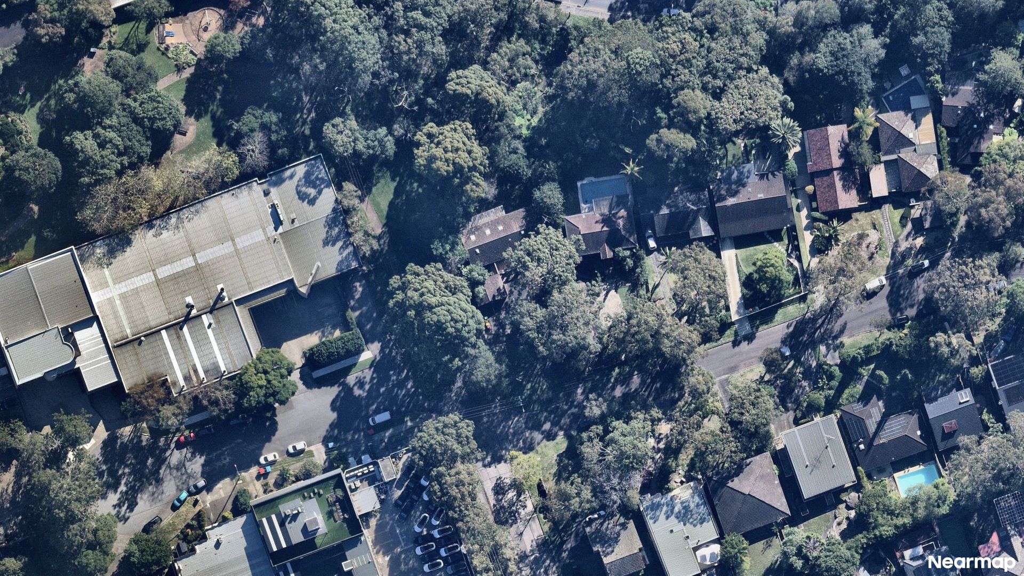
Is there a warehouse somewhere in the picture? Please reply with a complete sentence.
Yes, a warehouse appears in the view.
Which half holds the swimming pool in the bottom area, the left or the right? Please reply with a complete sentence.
The swimming pool in the bottom area sits on the right side.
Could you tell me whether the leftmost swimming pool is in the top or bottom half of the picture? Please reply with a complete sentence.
Seen from above, the leftmost swimming pool lies in the top half of the view.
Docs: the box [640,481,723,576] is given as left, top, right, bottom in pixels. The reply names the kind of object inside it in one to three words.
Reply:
house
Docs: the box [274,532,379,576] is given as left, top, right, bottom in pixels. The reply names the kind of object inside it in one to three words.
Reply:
building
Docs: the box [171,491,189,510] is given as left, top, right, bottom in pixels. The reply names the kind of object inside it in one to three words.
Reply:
car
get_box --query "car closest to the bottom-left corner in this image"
[143,516,161,531]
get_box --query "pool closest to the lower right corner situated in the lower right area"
[892,460,941,500]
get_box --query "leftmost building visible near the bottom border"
[176,511,275,576]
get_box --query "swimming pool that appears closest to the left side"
[577,175,633,214]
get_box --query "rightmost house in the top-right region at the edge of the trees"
[941,86,1008,164]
